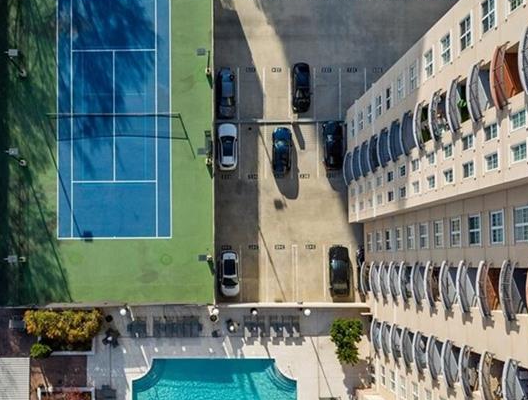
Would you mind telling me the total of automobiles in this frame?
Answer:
7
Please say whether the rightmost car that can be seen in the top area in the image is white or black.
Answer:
black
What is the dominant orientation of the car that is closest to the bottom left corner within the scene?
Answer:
up and down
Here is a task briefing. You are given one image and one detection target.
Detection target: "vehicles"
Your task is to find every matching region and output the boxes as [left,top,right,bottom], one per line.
[290,61,313,114]
[328,245,353,299]
[216,69,237,118]
[270,126,293,175]
[216,123,238,172]
[321,119,346,171]
[218,249,241,298]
